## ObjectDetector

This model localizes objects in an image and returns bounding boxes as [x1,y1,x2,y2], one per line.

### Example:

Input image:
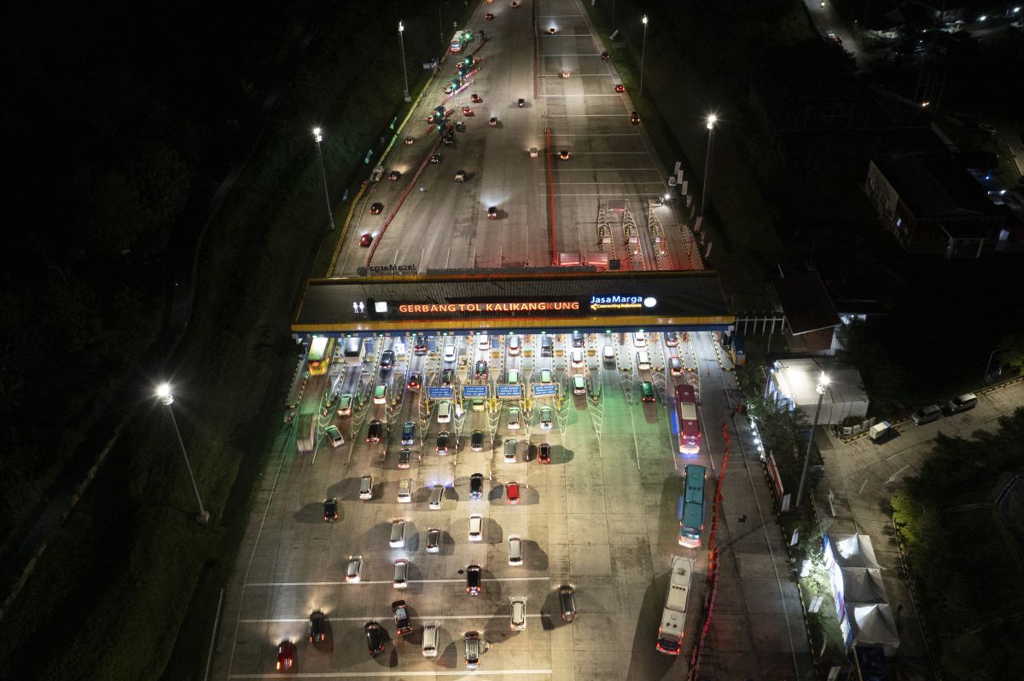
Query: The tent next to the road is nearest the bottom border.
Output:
[842,601,902,654]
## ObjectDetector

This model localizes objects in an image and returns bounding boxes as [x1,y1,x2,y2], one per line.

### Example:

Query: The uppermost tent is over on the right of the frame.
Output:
[831,532,882,567]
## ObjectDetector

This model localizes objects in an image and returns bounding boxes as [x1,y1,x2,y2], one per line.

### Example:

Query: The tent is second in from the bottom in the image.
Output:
[837,565,892,612]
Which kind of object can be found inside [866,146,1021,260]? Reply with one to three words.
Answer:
building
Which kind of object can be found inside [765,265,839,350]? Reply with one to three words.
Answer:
house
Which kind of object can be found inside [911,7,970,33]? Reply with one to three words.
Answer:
house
